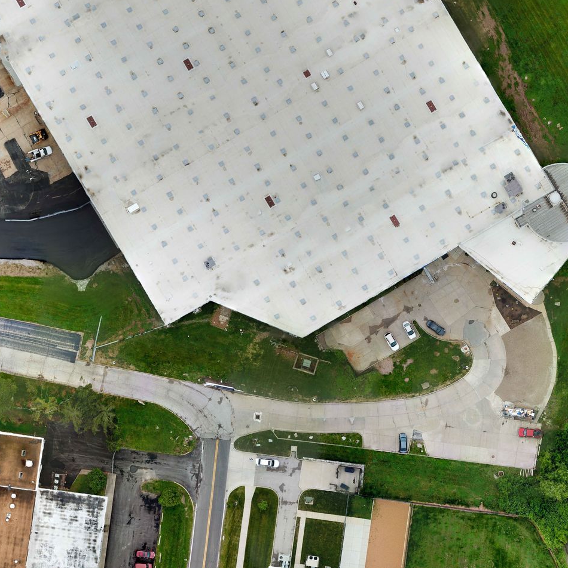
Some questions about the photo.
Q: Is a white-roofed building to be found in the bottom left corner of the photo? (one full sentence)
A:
Yes, a white-roofed building can be seen in the bottom left corner of the photo.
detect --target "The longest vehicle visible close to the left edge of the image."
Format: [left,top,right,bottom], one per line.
[25,147,54,161]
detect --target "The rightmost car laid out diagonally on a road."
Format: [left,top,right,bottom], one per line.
[426,319,446,336]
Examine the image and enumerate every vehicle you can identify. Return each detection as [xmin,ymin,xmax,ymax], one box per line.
[25,147,54,161]
[399,434,408,454]
[132,562,156,568]
[257,459,279,468]
[426,319,446,336]
[137,550,155,559]
[518,428,542,438]
[384,333,400,353]
[27,130,46,145]
[402,322,417,342]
